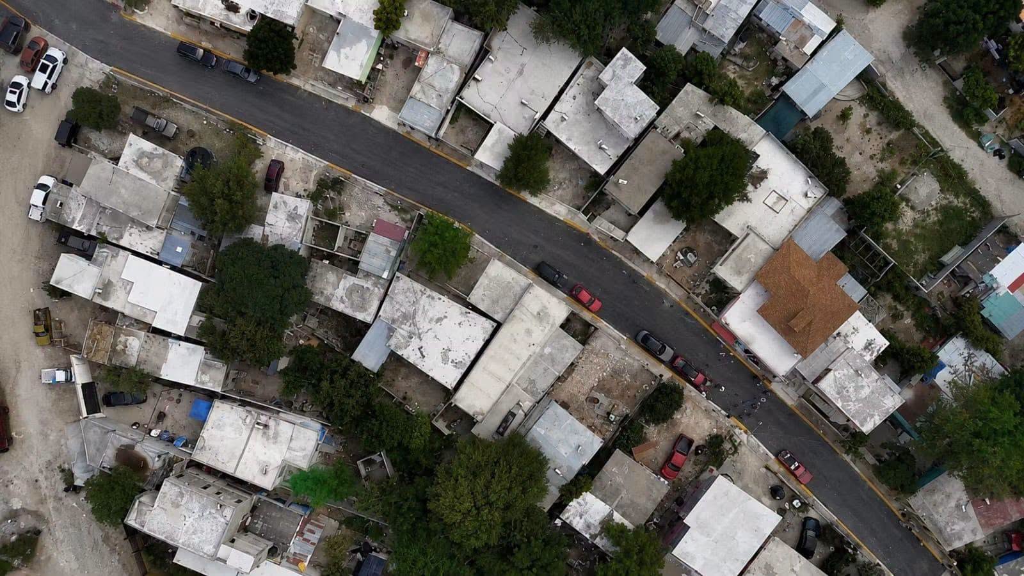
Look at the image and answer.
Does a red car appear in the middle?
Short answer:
Yes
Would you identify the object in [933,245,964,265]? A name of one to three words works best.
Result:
shed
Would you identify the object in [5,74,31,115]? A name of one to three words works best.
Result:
car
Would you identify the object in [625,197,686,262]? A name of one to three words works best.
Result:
house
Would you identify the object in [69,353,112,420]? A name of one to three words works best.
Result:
vehicle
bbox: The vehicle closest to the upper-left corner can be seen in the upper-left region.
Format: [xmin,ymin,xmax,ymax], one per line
[0,13,29,59]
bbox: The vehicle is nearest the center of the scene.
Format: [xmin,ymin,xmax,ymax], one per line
[532,258,569,289]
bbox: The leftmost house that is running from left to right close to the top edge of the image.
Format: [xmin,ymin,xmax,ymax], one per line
[170,0,262,37]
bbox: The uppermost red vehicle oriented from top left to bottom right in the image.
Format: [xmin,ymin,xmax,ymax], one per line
[567,282,603,313]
